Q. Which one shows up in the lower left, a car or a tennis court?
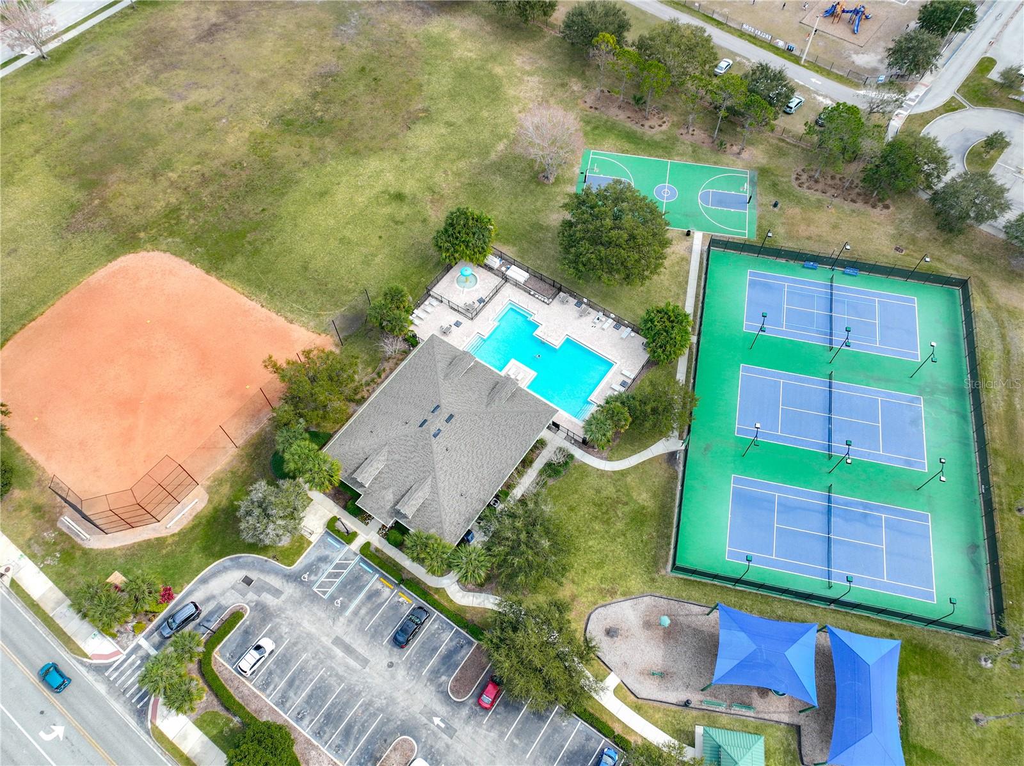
car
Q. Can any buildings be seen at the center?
Yes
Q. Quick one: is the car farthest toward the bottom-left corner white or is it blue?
blue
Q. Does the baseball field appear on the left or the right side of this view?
left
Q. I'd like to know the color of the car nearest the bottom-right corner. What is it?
blue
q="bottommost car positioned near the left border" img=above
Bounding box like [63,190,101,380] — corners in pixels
[35,660,70,697]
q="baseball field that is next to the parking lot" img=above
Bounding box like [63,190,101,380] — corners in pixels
[0,251,341,548]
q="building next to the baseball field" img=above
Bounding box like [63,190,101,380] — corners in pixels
[321,334,558,551]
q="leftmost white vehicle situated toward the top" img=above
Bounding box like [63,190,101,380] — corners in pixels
[713,56,735,73]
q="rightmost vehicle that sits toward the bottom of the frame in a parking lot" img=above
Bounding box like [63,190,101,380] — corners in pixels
[595,743,620,766]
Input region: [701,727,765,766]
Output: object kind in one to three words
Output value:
building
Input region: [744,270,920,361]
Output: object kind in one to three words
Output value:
tennis court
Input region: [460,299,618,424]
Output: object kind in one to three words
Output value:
swimming pool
